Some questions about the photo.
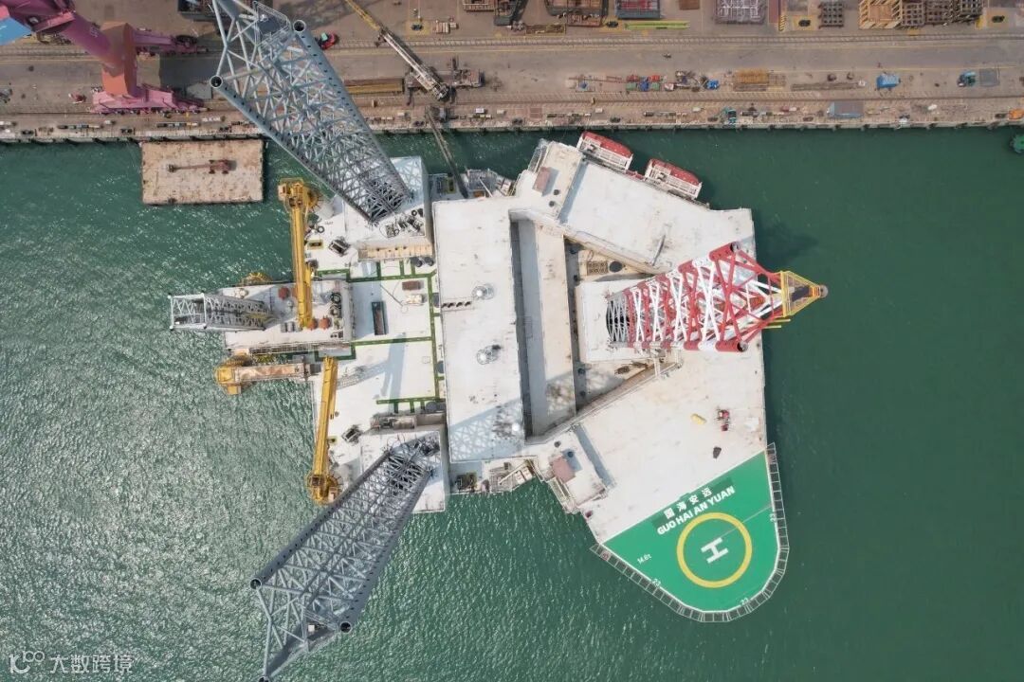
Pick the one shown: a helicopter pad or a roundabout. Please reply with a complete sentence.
There is a helicopter pad in the scene.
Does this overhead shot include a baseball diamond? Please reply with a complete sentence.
No, the picture doesn't show any baseball diamond.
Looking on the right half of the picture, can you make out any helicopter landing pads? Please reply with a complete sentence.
Yes, looking on the right half of the picture, one can make out a helicopter landing pad.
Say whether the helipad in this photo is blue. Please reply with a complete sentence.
No, from above the helipad looks green.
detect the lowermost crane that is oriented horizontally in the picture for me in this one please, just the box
[213,353,321,397]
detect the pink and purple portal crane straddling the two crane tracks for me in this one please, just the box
[0,0,207,114]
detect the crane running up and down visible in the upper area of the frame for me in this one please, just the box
[276,173,339,333]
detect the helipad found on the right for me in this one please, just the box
[591,444,790,623]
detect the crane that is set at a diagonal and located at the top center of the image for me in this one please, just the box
[342,0,490,107]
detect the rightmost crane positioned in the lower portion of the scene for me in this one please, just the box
[309,355,360,512]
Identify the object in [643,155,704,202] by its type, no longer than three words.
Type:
boat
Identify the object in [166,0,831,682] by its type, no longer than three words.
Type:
ship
